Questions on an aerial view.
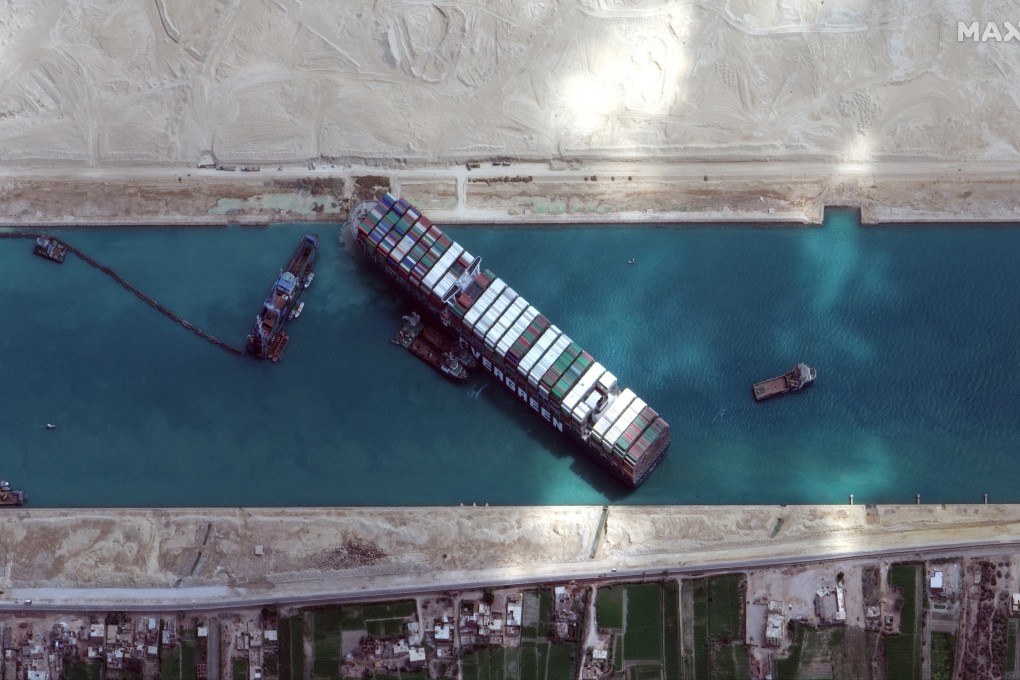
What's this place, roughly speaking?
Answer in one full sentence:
The picture captures a port.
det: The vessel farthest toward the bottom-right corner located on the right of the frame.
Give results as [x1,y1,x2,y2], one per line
[753,365,815,401]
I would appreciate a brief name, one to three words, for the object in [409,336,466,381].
vessel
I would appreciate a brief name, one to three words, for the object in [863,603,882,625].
house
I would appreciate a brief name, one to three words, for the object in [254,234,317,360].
ship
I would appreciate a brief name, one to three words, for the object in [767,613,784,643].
house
